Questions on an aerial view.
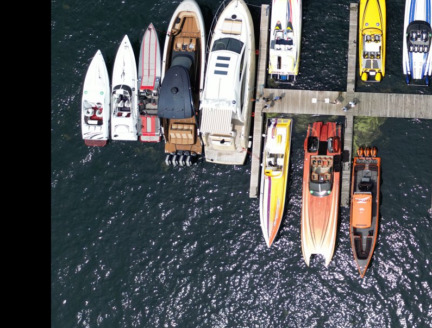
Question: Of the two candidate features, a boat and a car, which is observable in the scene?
boat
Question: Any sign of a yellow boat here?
Yes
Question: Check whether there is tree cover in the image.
No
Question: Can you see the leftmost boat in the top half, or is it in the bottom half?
top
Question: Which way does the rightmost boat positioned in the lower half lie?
from top to bottom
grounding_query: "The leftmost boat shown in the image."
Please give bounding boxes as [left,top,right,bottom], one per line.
[84,50,113,146]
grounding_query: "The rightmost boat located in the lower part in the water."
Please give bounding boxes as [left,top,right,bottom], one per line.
[350,146,382,278]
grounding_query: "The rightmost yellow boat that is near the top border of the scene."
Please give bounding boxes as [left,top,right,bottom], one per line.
[360,0,387,81]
